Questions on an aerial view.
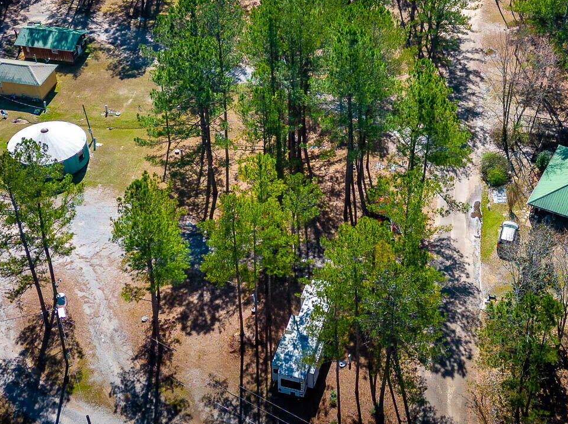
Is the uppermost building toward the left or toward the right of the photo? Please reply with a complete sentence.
The uppermost building appears in the left half of the scene.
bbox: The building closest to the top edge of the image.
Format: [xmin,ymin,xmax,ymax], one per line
[14,15,94,65]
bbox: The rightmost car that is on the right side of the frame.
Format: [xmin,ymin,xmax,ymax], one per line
[498,222,519,255]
